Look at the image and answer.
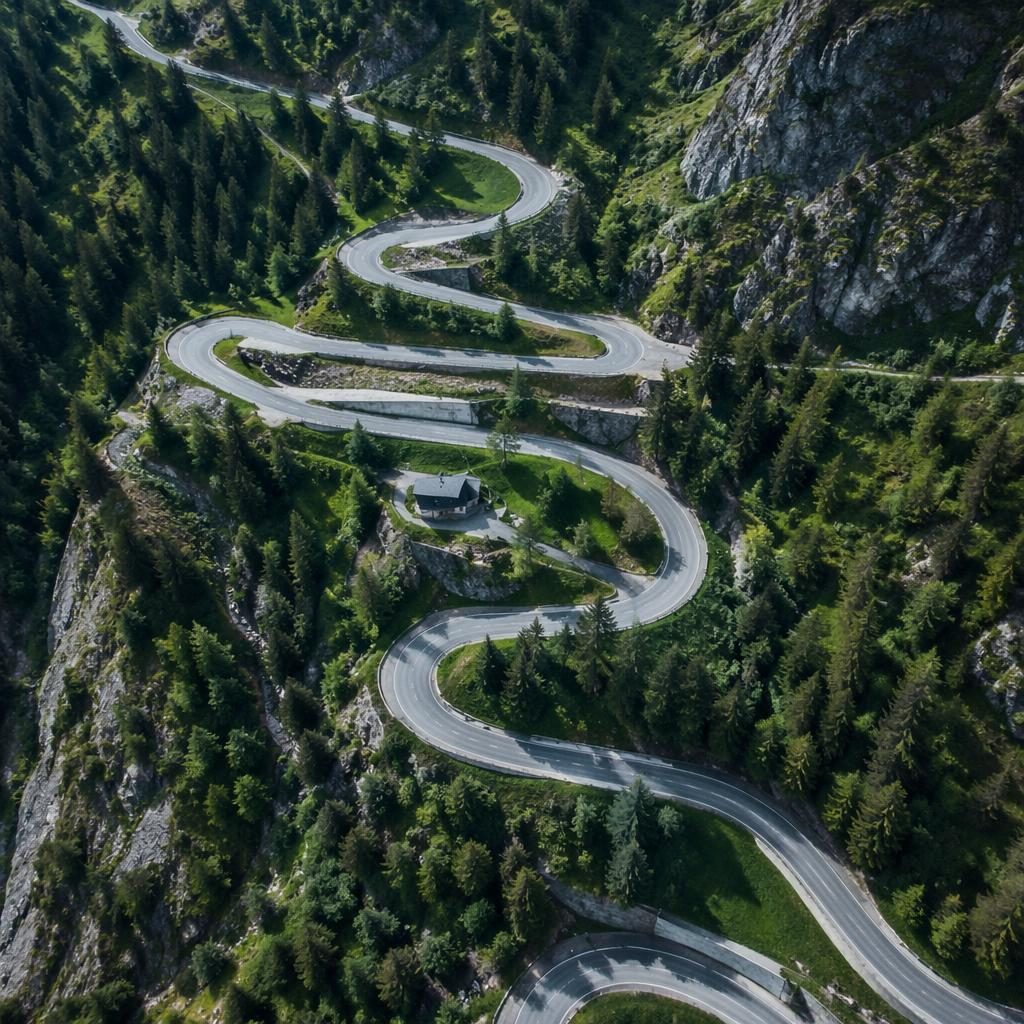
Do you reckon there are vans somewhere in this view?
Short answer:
No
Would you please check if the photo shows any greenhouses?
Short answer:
No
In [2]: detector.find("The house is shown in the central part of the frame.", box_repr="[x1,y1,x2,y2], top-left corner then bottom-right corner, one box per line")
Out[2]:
[419,471,483,519]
